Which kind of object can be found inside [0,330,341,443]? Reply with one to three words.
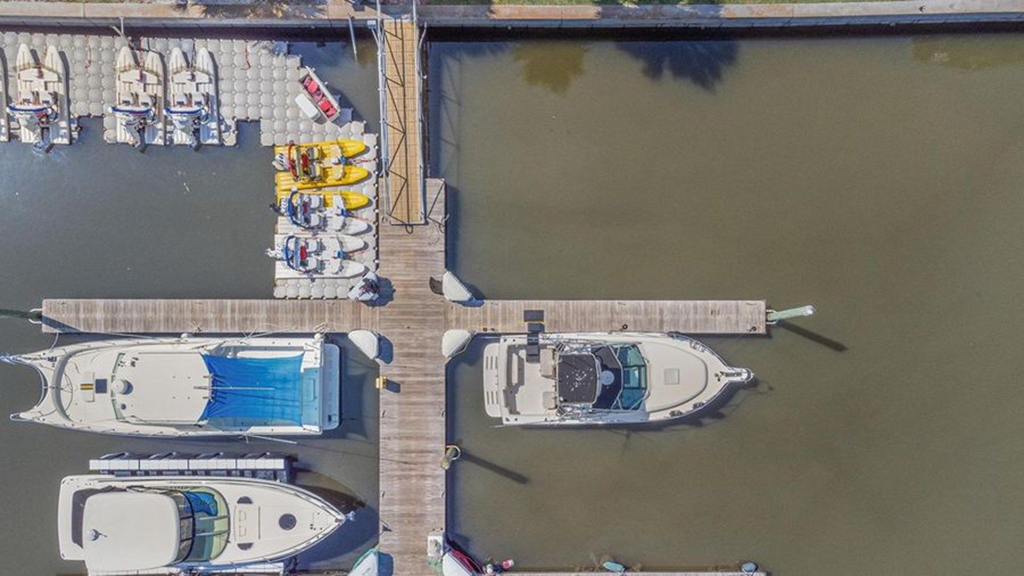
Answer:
boat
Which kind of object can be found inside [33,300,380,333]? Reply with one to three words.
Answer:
pier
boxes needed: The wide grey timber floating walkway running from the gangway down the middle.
[347,180,478,576]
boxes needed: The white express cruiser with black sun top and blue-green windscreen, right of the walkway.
[484,332,755,428]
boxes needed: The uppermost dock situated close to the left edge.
[0,33,380,300]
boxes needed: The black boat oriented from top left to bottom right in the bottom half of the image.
[453,545,489,576]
